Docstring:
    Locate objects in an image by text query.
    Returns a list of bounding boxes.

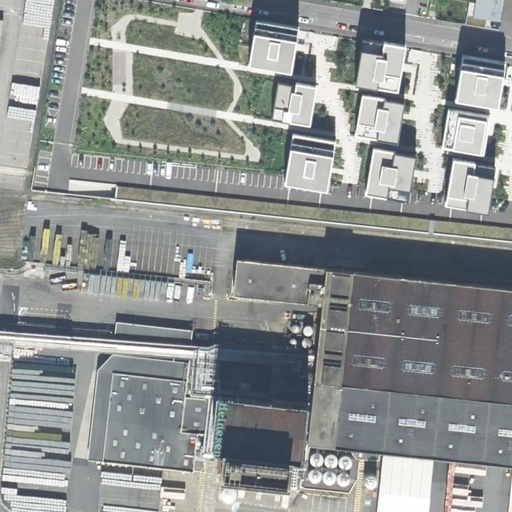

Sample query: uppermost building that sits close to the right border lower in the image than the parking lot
[336,275,512,468]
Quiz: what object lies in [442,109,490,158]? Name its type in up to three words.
building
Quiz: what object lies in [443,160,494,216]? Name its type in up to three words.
building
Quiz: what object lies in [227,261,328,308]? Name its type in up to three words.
shed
